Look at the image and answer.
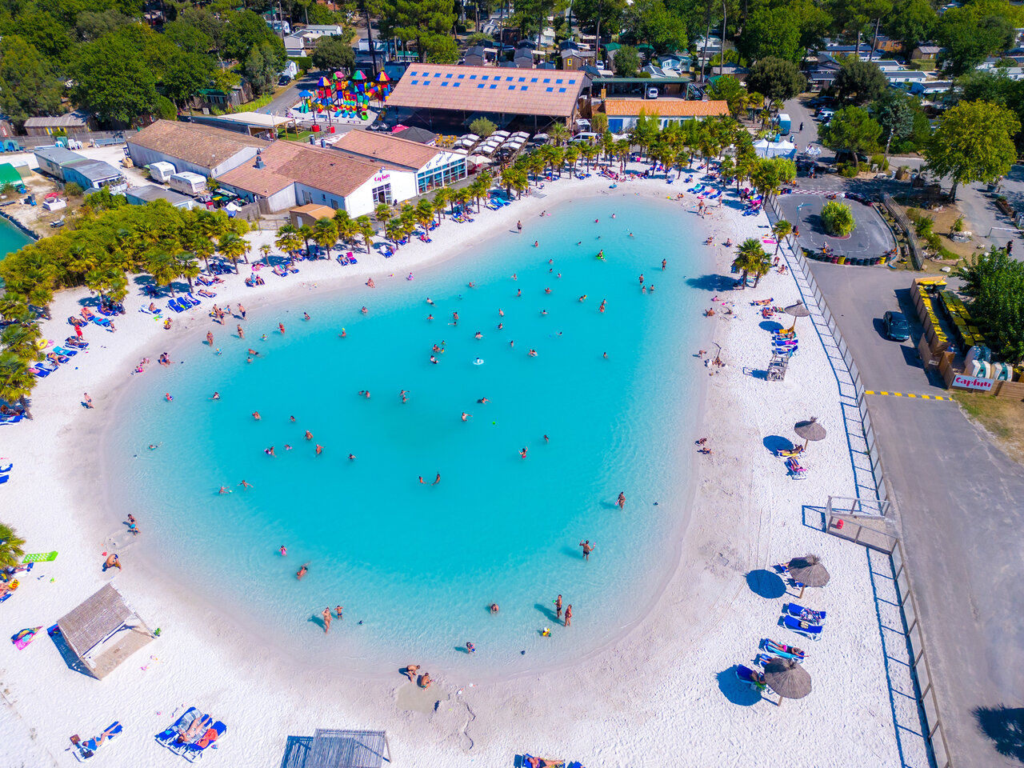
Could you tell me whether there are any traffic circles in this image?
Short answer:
No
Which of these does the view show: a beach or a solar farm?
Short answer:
beach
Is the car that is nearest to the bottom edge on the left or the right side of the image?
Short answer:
right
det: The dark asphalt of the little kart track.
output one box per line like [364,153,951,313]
[778,191,894,264]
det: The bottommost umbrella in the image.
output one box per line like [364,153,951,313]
[762,658,817,708]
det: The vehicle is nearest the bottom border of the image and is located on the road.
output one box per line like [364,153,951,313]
[885,307,911,342]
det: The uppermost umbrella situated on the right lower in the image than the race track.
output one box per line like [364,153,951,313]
[785,297,814,322]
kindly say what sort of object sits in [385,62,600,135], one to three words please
building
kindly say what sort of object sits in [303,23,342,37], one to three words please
house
